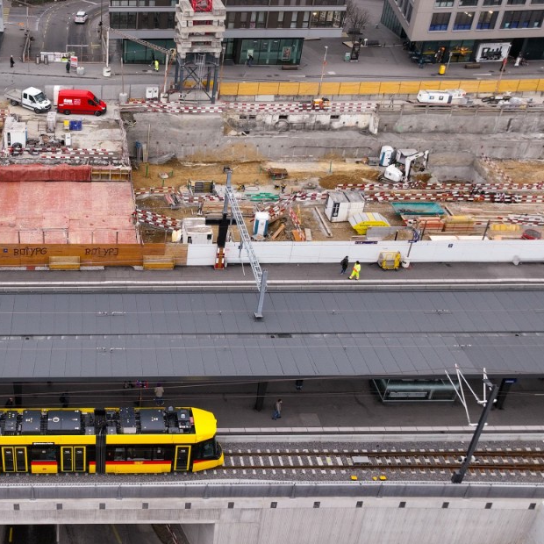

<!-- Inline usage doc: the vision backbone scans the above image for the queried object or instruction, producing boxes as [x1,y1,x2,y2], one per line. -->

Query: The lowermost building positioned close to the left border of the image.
[2,120,30,149]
